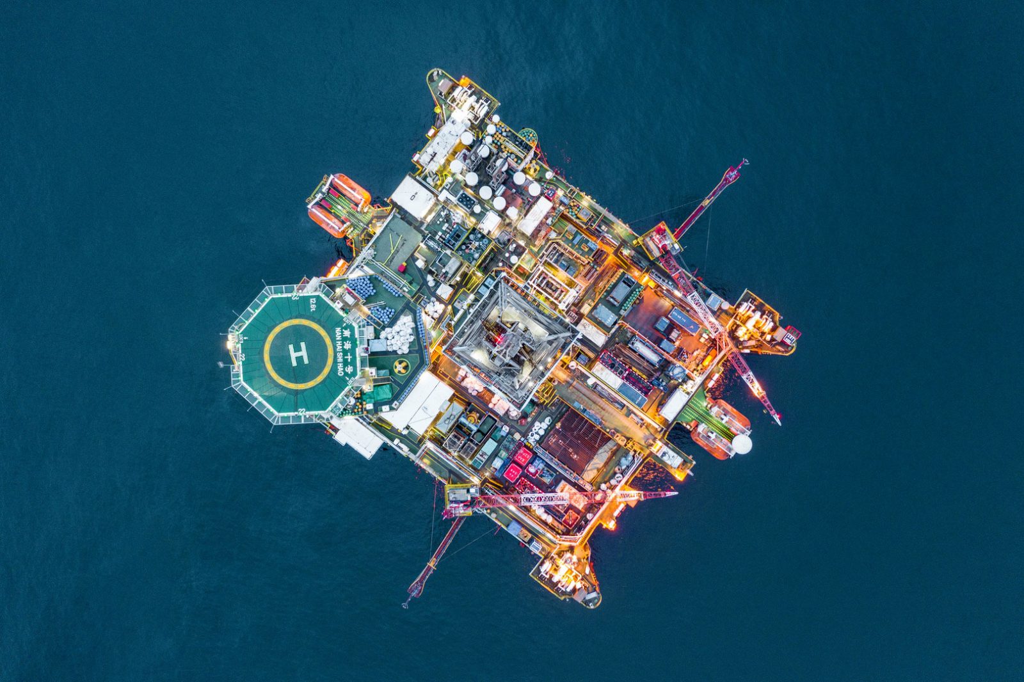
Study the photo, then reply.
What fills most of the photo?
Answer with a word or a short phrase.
water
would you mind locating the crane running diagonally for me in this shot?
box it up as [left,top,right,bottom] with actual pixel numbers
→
[637,218,782,426]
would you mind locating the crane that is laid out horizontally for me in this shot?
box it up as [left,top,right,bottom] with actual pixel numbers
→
[447,479,680,528]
